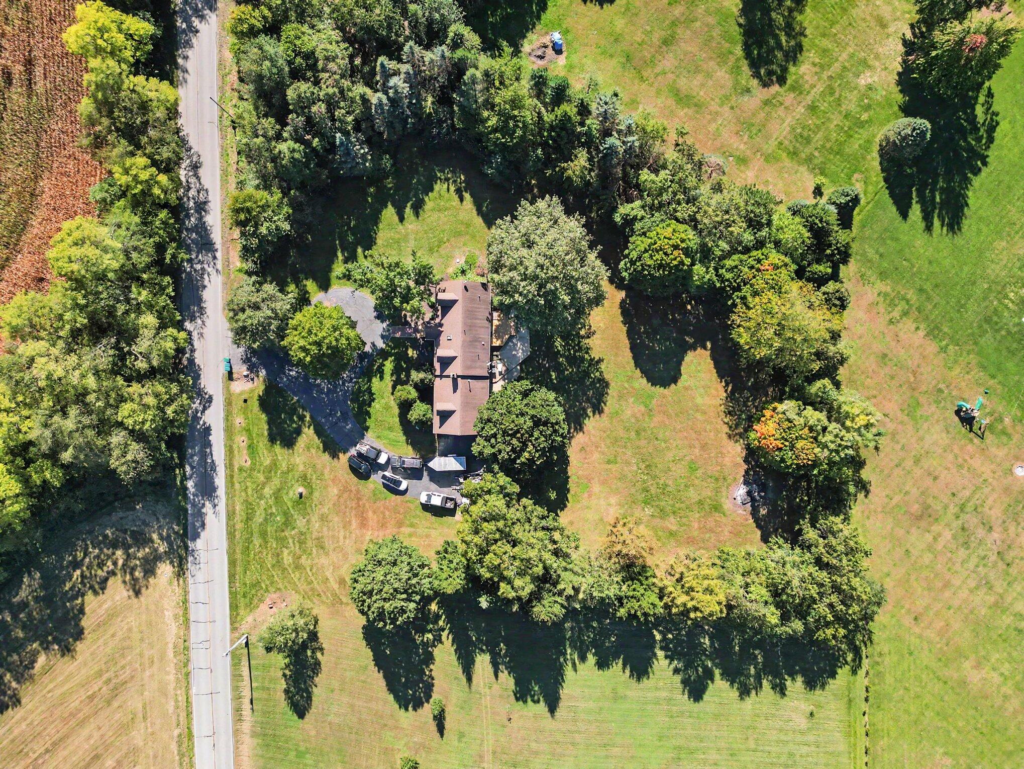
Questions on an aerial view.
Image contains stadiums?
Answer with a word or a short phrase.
No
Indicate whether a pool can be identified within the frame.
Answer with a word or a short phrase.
No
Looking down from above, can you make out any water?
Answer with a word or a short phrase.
No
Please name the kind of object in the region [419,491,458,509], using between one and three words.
vehicle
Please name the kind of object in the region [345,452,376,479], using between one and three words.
vehicle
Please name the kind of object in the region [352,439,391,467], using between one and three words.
truck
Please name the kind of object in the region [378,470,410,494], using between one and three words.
car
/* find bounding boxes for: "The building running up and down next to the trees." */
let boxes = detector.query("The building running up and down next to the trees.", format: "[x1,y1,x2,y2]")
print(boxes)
[425,280,491,434]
